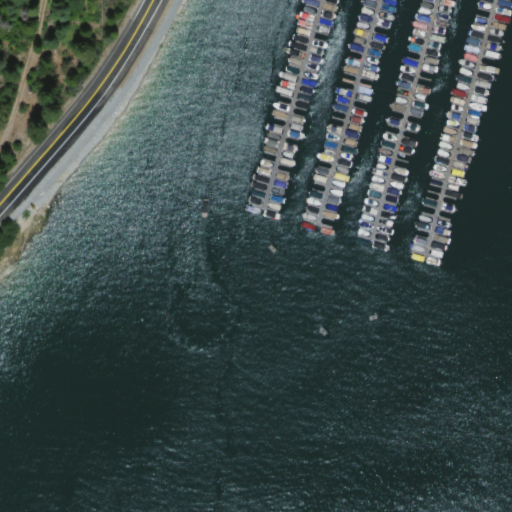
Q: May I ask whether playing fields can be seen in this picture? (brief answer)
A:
No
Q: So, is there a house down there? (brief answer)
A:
No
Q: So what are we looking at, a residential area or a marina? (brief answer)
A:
marina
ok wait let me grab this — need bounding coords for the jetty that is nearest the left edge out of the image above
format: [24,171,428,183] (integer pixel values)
[250,0,338,214]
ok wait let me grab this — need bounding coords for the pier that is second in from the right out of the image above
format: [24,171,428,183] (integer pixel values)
[358,0,454,246]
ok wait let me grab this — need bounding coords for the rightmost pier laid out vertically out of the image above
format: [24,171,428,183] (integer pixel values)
[414,0,510,264]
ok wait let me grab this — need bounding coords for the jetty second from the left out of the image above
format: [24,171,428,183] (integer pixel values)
[304,0,394,231]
